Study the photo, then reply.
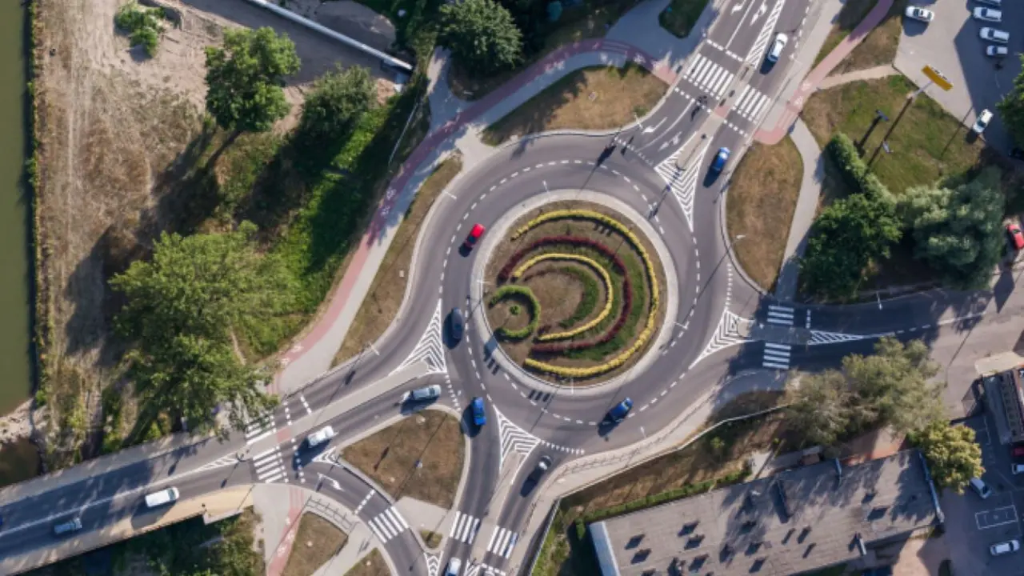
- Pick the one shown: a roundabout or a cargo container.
roundabout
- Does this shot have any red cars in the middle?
Yes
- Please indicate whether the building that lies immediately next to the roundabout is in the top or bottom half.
bottom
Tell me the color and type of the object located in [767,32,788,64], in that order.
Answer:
white car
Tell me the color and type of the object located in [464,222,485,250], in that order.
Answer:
red car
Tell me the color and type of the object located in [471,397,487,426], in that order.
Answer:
blue car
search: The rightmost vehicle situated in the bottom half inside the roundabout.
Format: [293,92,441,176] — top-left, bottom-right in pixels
[609,396,635,425]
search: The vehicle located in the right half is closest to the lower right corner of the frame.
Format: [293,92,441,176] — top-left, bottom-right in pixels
[988,538,1021,556]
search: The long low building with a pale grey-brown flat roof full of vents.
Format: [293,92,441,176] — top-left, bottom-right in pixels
[590,448,947,576]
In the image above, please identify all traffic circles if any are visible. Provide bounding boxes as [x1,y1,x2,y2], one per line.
[410,133,740,458]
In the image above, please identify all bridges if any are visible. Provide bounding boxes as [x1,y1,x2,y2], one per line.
[0,411,254,576]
